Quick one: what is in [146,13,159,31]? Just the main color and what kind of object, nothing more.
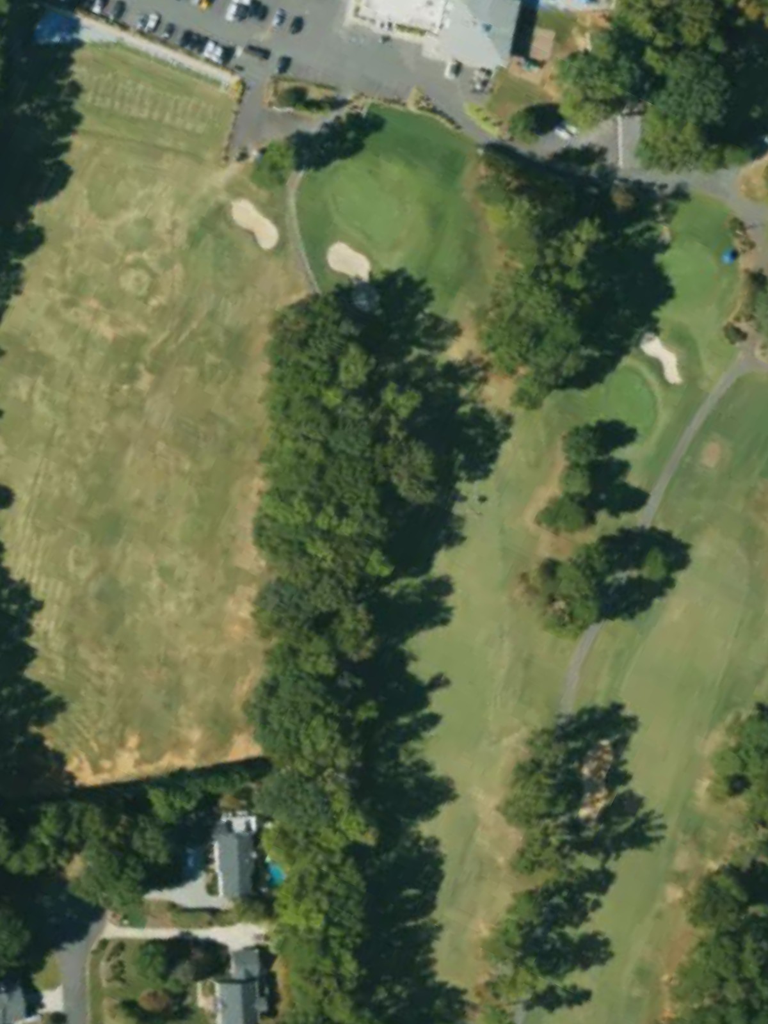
white vehicle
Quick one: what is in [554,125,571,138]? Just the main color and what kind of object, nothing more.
white vehicle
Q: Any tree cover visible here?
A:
Yes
